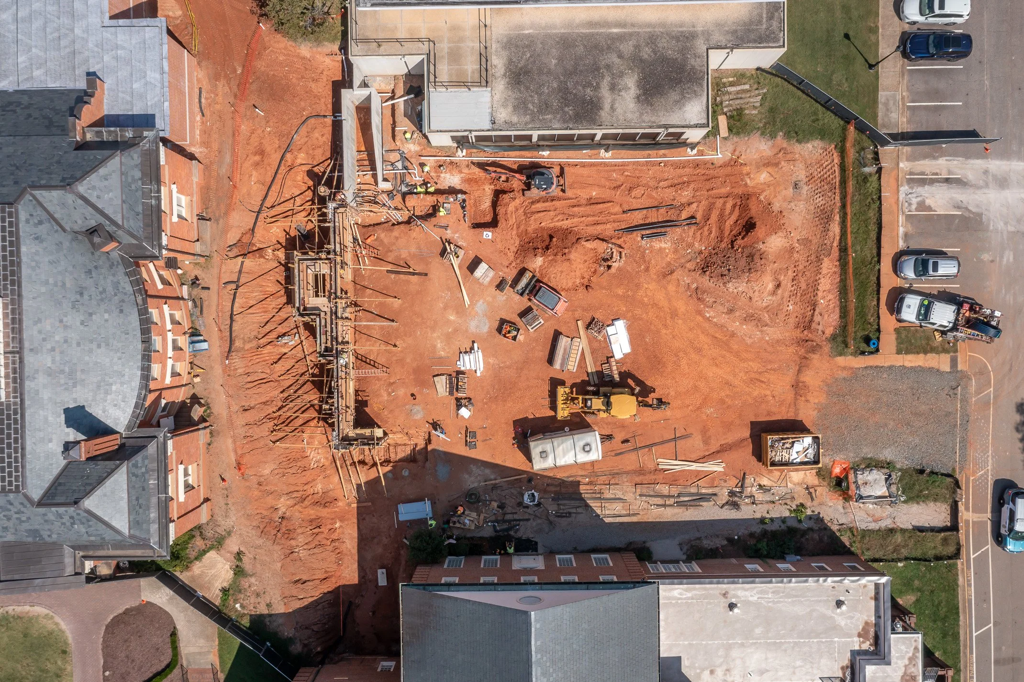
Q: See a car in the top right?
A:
Yes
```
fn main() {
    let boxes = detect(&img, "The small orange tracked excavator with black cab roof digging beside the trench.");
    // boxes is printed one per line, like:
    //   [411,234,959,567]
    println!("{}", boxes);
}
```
[497,161,571,197]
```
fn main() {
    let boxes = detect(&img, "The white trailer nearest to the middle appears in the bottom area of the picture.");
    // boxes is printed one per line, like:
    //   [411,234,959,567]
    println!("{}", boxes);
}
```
[529,428,613,470]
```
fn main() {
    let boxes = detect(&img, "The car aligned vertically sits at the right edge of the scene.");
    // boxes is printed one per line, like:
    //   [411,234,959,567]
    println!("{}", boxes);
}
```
[993,486,1024,553]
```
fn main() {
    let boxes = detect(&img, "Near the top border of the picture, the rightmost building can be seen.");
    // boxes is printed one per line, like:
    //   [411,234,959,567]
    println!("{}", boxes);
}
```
[350,0,787,151]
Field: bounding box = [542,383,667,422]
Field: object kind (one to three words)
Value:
work vehicle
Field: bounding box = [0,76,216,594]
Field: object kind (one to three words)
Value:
building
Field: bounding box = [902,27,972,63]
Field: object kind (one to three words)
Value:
car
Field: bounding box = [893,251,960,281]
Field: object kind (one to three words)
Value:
car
